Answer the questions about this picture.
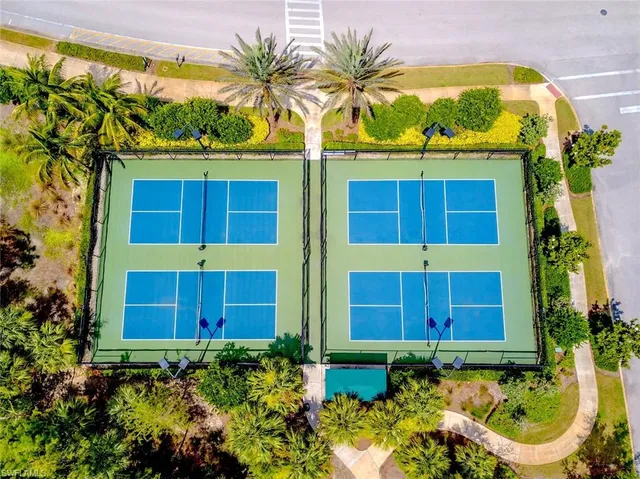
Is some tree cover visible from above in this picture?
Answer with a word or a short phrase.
Yes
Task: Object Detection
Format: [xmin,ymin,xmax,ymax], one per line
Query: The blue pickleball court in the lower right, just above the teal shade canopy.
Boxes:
[349,271,506,342]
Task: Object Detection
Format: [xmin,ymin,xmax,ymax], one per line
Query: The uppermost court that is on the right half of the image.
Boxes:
[348,179,499,245]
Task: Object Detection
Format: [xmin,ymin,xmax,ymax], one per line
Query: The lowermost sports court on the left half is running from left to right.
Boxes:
[121,270,277,340]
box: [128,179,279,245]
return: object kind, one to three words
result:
sports court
